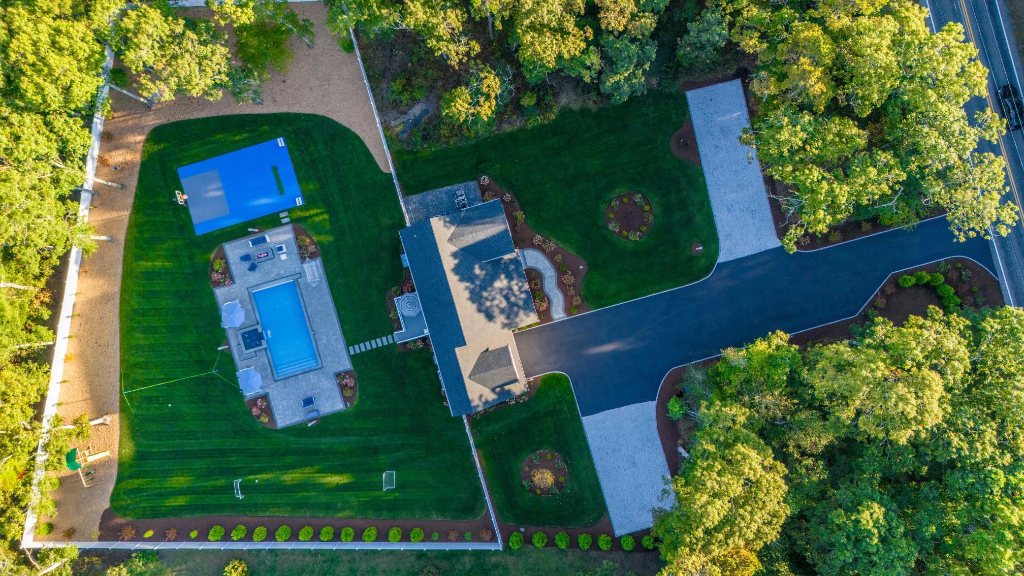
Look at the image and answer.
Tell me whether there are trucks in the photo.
No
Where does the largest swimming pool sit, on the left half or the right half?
left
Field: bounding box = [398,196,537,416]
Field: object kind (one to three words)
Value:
house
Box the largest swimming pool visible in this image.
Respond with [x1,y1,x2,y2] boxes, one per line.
[246,272,324,384]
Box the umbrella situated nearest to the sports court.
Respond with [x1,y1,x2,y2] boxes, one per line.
[224,303,246,326]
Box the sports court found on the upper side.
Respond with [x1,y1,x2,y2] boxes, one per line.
[177,137,304,235]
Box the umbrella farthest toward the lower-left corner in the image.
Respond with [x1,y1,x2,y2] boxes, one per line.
[241,369,264,391]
